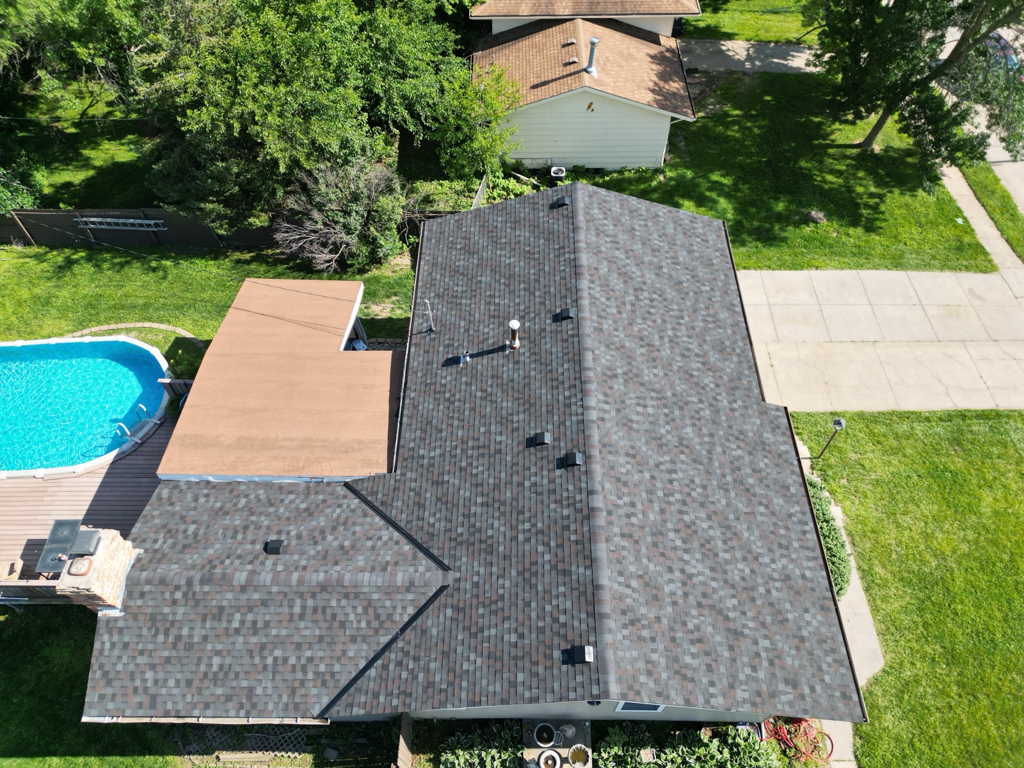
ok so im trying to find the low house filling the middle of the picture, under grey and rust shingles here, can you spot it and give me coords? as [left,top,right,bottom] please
[60,181,868,725]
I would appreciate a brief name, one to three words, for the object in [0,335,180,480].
swimming pool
